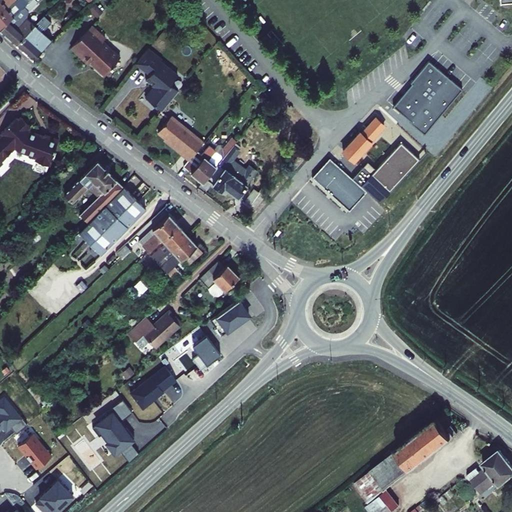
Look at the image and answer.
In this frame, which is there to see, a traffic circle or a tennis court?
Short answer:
traffic circle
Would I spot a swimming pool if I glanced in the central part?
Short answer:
No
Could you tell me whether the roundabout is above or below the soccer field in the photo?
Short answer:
below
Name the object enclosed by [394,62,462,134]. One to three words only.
building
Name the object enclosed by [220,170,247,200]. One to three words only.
house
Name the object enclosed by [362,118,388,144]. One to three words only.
house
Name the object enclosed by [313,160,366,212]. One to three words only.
building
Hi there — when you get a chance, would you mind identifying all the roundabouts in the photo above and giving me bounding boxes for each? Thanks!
[290,266,380,356]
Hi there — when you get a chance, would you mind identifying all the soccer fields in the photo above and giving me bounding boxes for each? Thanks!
[256,0,407,74]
